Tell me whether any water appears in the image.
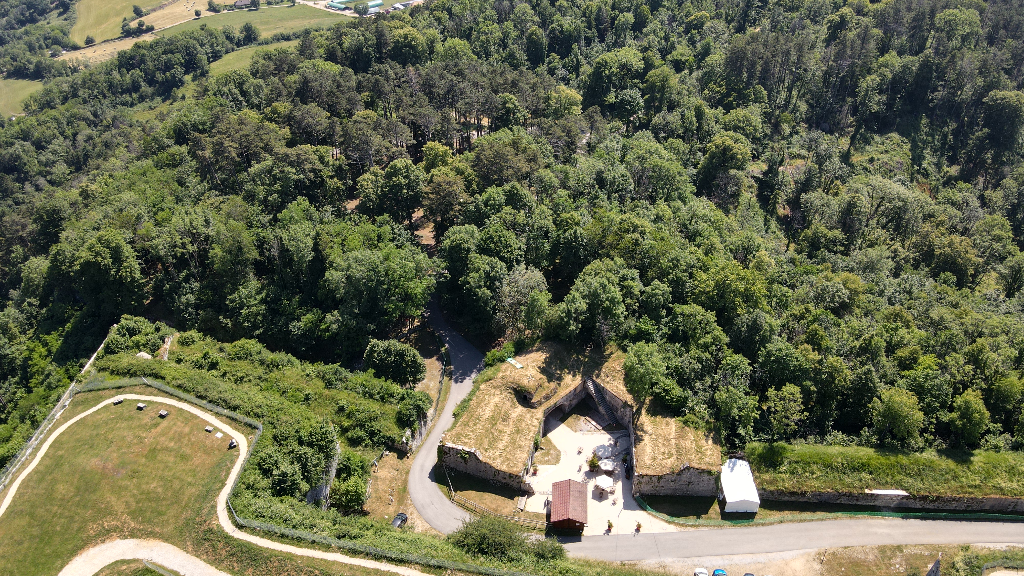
No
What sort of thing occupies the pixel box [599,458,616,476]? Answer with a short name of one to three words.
umbrella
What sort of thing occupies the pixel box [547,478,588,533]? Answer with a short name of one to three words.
shed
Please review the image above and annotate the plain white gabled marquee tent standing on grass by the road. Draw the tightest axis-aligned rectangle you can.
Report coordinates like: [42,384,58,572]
[720,461,760,512]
